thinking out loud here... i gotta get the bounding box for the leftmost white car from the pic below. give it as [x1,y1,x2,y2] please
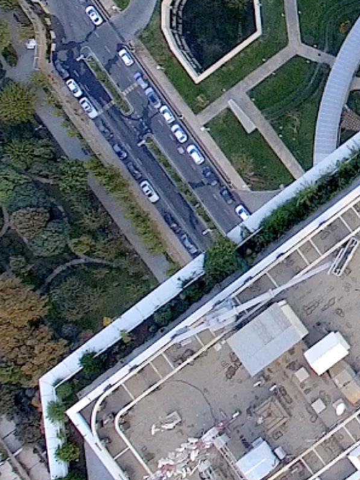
[64,78,82,98]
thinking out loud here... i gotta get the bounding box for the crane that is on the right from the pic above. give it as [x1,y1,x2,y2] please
[199,235,360,331]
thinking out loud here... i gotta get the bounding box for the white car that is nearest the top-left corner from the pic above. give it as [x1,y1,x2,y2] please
[85,4,104,26]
